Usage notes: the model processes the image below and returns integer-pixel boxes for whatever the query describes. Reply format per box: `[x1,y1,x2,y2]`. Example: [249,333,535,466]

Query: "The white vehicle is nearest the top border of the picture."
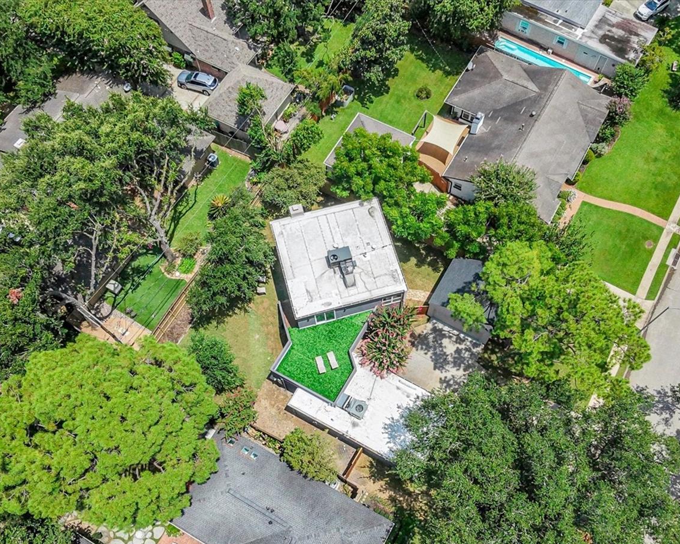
[635,0,670,20]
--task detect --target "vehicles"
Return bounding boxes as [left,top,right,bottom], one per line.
[174,72,216,97]
[635,0,670,20]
